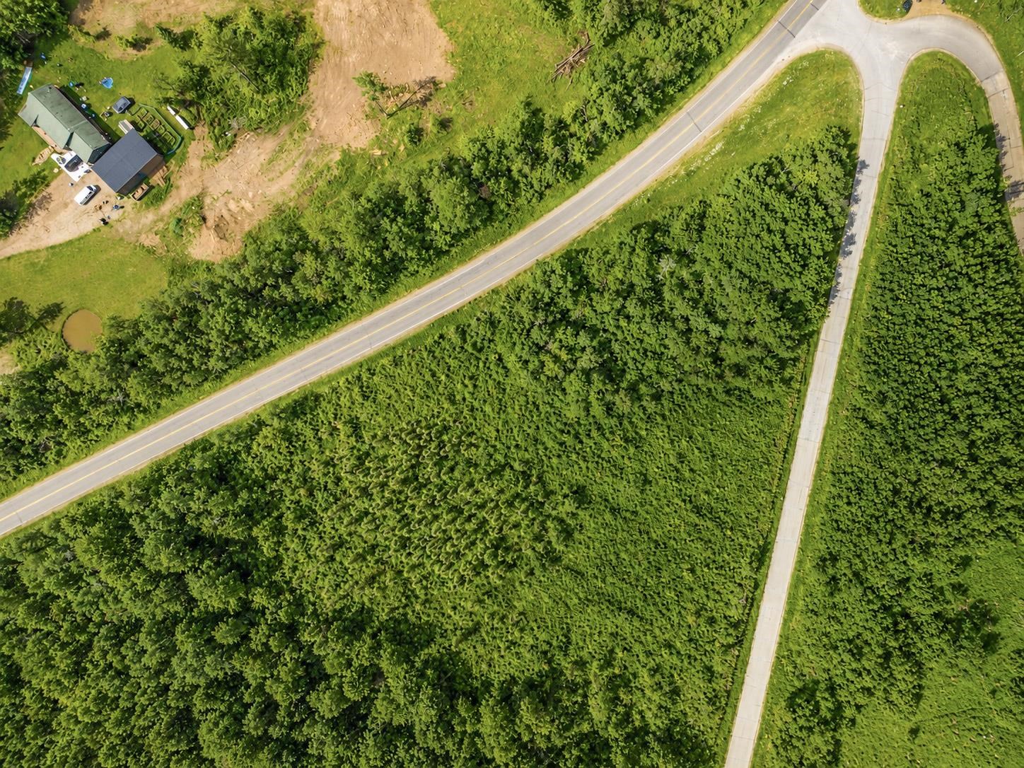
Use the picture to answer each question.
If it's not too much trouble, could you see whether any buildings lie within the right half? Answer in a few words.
No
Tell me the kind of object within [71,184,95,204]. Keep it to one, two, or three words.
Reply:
vehicle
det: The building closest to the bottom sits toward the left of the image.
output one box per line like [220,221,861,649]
[91,128,163,194]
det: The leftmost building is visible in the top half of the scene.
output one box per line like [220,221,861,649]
[19,85,114,165]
